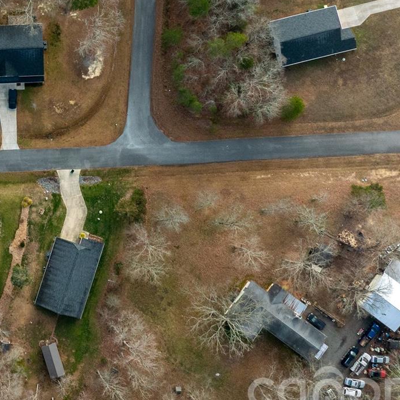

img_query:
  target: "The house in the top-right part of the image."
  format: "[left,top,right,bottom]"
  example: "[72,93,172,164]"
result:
[265,6,358,68]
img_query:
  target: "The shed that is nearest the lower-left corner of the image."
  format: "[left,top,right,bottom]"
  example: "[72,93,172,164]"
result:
[41,339,65,379]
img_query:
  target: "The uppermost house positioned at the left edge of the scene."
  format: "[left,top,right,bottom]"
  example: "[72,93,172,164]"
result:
[0,15,45,84]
